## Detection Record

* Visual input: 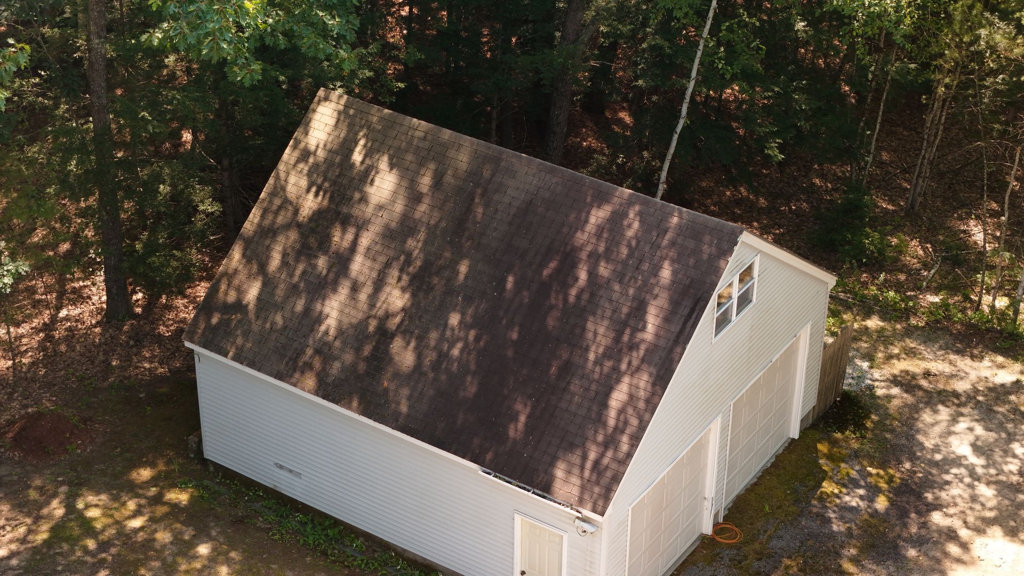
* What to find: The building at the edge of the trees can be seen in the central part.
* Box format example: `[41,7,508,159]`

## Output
[181,86,838,576]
